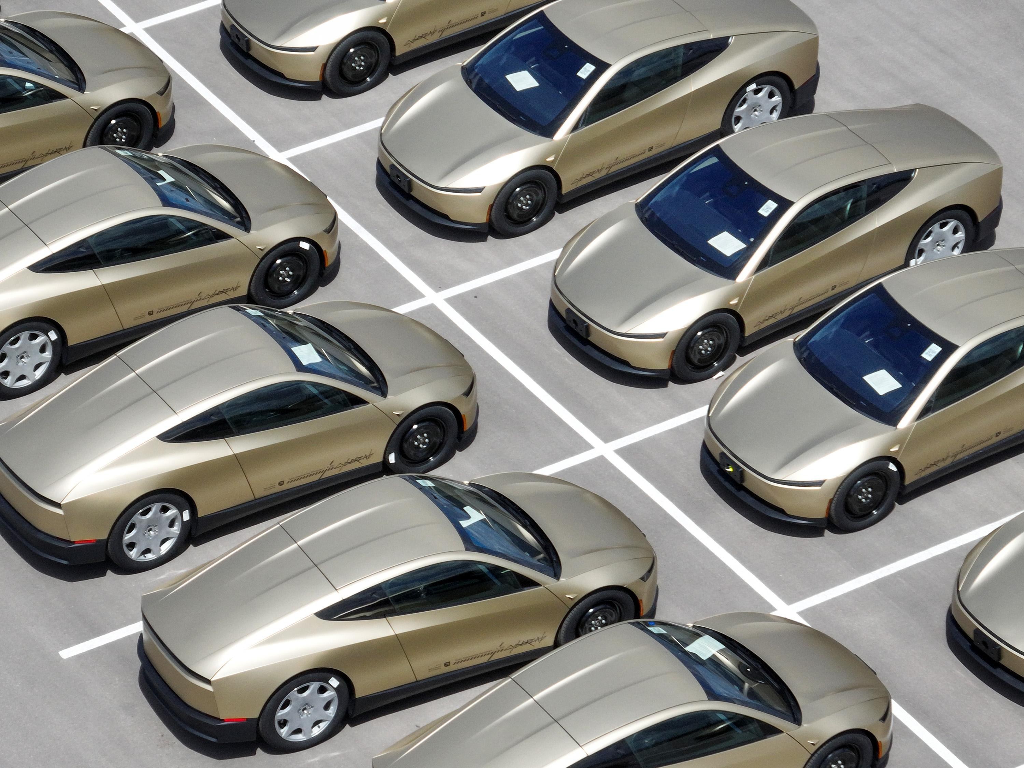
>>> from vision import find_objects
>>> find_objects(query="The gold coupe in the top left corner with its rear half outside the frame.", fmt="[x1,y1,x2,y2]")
[0,15,175,182]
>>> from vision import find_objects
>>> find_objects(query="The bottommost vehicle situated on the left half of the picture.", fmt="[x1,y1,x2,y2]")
[136,475,661,751]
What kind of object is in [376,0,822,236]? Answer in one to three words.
car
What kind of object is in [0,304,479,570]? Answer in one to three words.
car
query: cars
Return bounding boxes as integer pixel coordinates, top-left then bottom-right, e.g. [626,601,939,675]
[372,613,895,768]
[549,103,1005,382]
[703,248,1024,531]
[376,0,822,236]
[0,15,175,182]
[220,0,557,94]
[0,147,342,396]
[0,304,479,570]
[136,475,661,751]
[953,519,1024,697]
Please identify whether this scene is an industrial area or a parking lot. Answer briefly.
parking lot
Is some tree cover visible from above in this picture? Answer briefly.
No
